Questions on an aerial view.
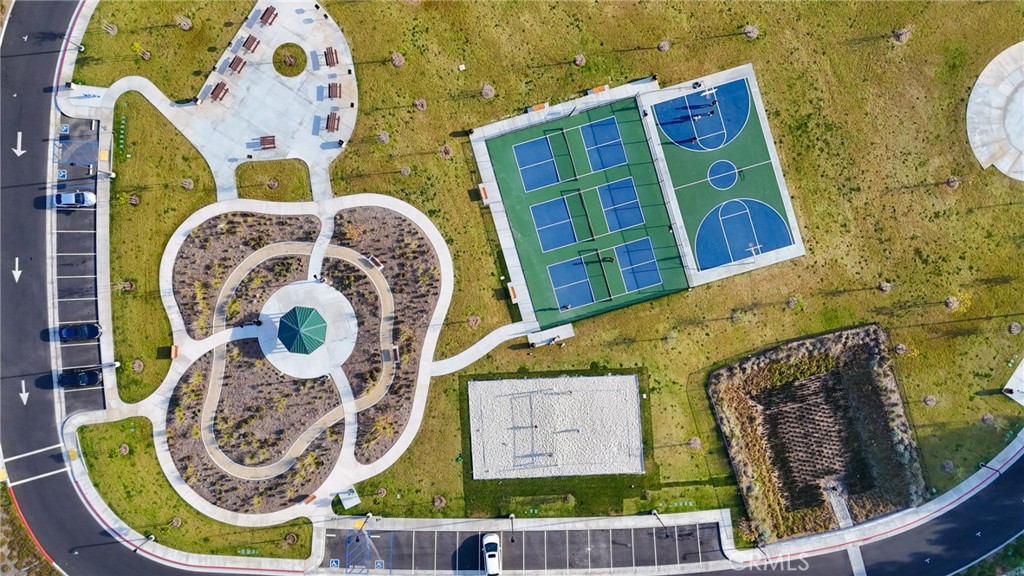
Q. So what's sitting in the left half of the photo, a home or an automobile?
automobile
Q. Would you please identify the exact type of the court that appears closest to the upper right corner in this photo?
basketball court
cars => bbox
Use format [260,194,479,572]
[59,323,101,342]
[481,533,501,576]
[58,370,101,388]
[54,189,96,208]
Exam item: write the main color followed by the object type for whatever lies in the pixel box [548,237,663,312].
blue sports court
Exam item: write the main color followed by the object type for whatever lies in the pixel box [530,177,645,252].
blue sports court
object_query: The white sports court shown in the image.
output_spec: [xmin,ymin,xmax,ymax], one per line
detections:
[468,374,645,480]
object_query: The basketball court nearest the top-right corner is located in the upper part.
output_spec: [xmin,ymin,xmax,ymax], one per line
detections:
[653,77,797,272]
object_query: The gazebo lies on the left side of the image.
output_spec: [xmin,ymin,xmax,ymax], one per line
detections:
[278,306,326,354]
